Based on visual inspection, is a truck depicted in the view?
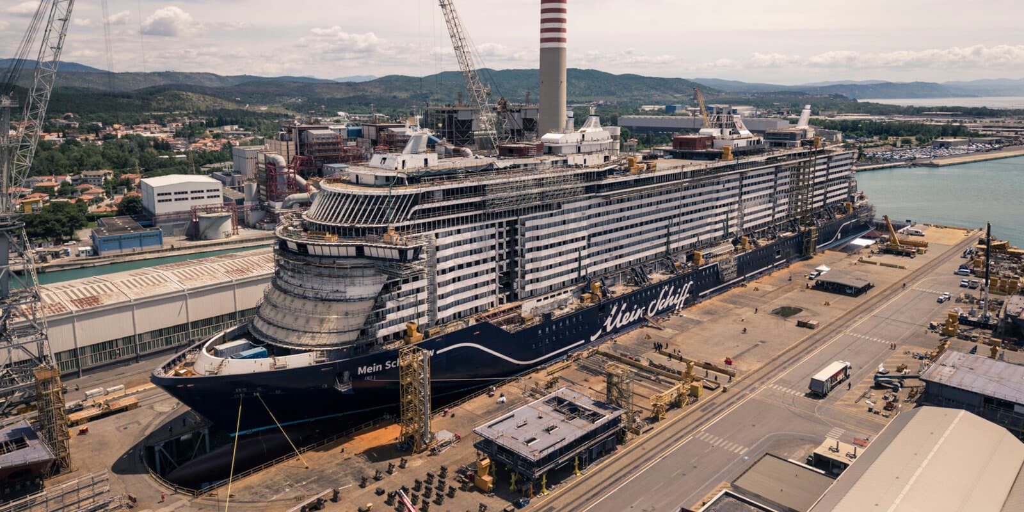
Yes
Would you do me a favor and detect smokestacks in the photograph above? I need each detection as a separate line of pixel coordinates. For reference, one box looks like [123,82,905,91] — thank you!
[539,0,567,128]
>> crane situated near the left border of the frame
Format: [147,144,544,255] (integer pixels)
[0,0,150,429]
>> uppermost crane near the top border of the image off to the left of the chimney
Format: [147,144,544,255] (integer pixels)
[418,0,518,141]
